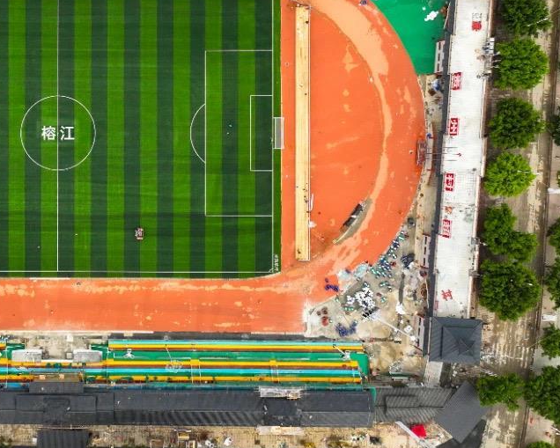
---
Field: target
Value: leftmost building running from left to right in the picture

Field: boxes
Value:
[37,425,89,448]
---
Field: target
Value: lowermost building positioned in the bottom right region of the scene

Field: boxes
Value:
[435,376,486,444]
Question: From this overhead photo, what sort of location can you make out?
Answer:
sports ground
